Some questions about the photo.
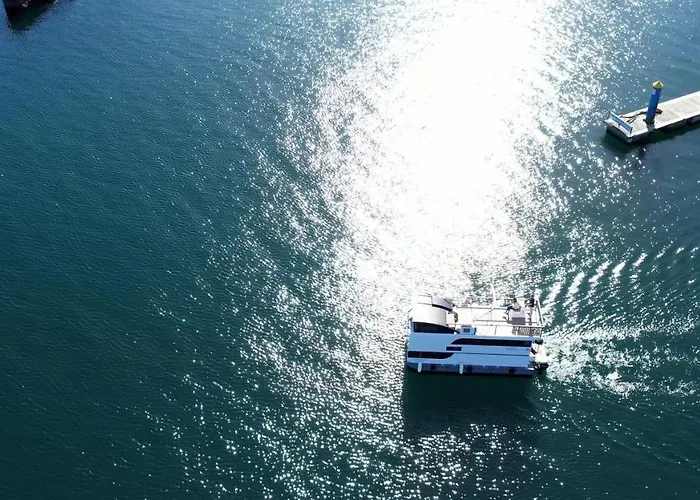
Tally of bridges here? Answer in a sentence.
I count no bridges.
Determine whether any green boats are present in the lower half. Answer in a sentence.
No, there's no green boat to be seen in the lower half.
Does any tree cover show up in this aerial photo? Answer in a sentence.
No, the picture contains no tree cover.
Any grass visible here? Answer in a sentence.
No, there's no grass in this view.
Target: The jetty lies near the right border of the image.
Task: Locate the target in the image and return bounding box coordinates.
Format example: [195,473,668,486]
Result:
[604,92,700,146]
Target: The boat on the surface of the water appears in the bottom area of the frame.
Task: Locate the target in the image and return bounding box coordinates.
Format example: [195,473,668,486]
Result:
[407,278,551,376]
